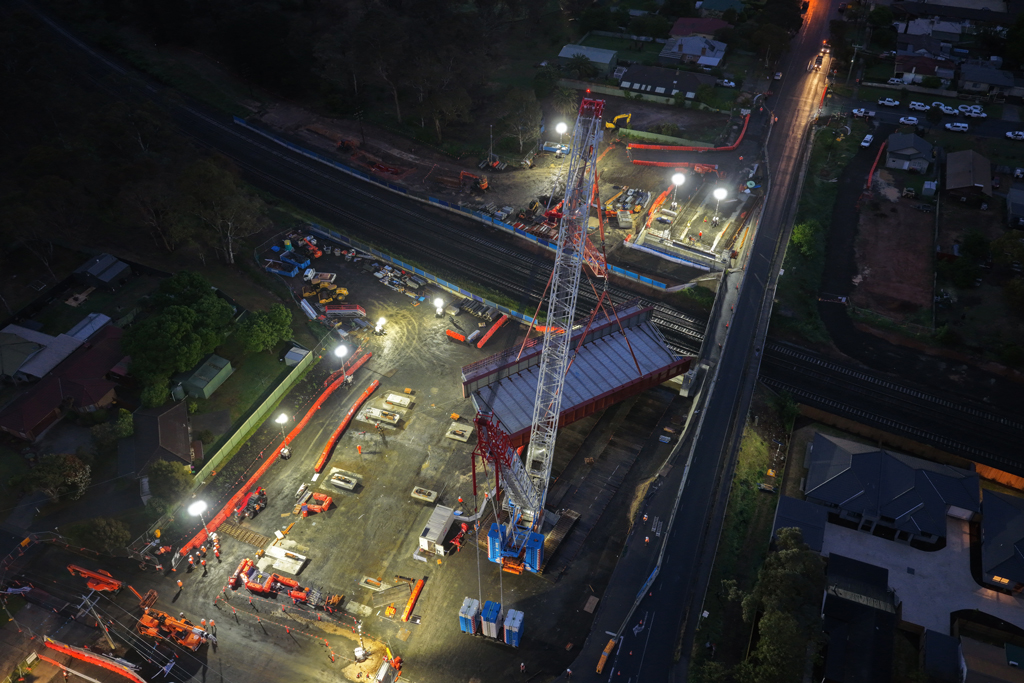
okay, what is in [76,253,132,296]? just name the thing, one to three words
shed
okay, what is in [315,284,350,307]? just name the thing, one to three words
work vehicle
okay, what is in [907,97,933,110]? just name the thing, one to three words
vehicle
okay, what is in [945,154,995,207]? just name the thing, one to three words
house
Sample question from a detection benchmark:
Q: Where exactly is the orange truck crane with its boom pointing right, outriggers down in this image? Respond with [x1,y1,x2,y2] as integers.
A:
[122,593,211,655]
